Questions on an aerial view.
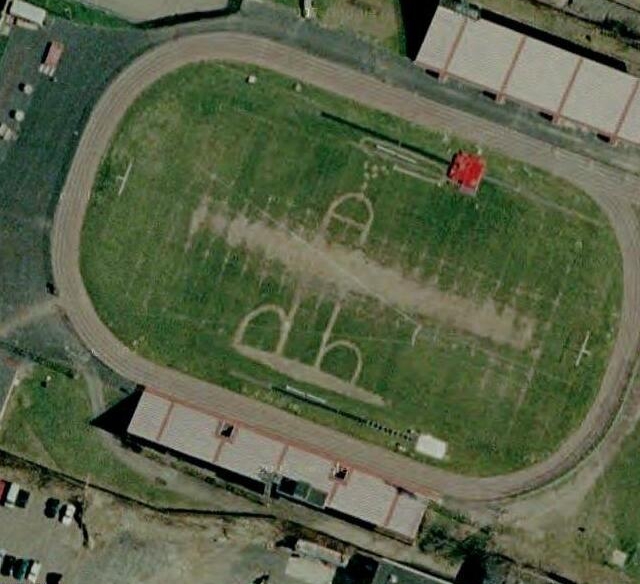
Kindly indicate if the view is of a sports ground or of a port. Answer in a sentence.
It's a sports ground.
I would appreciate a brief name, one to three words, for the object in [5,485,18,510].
vehicle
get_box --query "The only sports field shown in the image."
[81,61,624,475]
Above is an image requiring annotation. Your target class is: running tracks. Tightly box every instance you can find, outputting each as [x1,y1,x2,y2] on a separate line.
[52,33,640,500]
